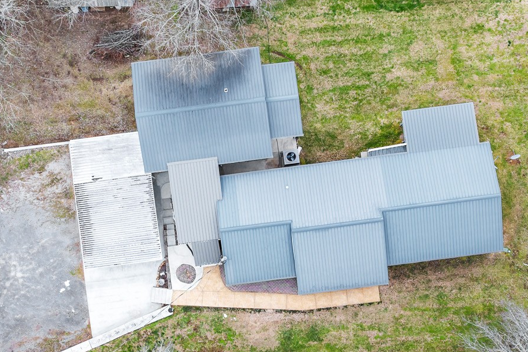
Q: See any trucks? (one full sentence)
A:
No, the frame has no truck in it.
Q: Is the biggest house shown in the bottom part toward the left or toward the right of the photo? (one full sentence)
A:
The biggest house shown in the bottom part sits on the right side.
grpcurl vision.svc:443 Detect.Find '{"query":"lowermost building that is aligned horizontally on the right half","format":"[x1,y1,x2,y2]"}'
[218,142,513,295]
